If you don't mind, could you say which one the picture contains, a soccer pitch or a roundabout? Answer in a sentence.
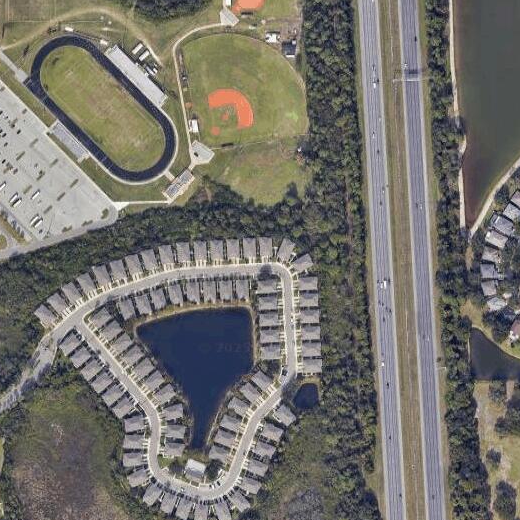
Visible in the photo is a soccer pitch.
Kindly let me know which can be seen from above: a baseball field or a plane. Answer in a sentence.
Looking from above, you can make out a baseball field.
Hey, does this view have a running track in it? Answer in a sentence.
Yes, the photo shows a running track.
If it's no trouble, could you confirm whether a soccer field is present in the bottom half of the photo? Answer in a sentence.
No, there's no soccer field to be seen in the bottom half of the photo.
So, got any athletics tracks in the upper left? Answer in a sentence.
Yes, there is an athletics track in the upper left.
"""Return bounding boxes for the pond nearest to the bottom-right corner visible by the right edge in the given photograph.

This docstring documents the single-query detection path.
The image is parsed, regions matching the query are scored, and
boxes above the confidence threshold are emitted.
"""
[470,326,520,380]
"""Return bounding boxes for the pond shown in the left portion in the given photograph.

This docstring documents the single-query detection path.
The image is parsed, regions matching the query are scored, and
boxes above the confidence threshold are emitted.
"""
[136,306,253,451]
